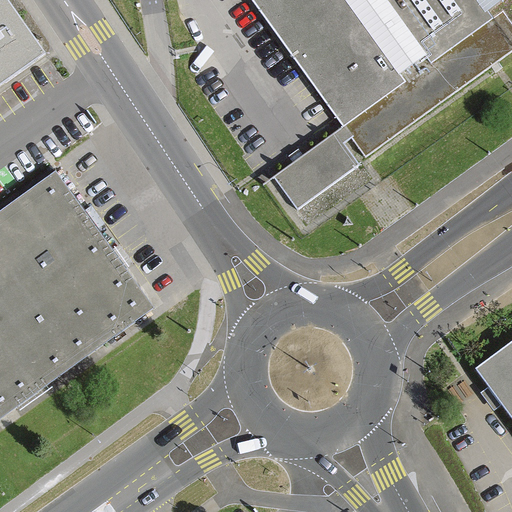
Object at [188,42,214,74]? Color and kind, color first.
white vehicle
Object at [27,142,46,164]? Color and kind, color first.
gray car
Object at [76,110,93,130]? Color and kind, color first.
white car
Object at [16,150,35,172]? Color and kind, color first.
white car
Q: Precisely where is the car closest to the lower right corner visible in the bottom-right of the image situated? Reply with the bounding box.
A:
[482,483,504,502]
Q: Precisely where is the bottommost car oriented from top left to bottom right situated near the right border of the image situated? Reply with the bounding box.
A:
[486,414,506,436]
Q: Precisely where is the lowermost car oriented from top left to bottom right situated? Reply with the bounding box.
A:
[316,455,338,474]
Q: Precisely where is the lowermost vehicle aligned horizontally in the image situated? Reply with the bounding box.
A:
[238,438,270,452]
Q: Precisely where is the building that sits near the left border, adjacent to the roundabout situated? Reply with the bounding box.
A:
[0,170,154,419]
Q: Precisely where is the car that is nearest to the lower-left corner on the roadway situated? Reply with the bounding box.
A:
[140,488,162,505]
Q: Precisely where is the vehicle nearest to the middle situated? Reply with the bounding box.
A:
[292,282,318,304]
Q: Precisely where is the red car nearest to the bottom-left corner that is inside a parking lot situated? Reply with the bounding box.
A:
[154,274,174,292]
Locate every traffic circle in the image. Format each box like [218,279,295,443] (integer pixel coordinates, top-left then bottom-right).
[210,276,408,483]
